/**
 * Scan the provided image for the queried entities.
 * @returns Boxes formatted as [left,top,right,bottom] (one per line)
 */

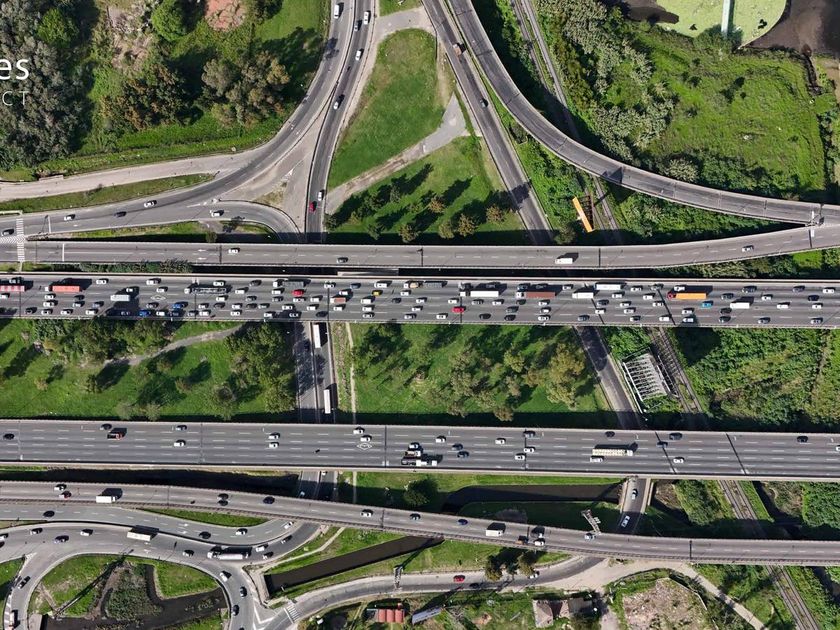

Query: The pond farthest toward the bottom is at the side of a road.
[44,562,229,630]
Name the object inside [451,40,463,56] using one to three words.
vehicle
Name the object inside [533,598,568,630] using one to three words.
house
